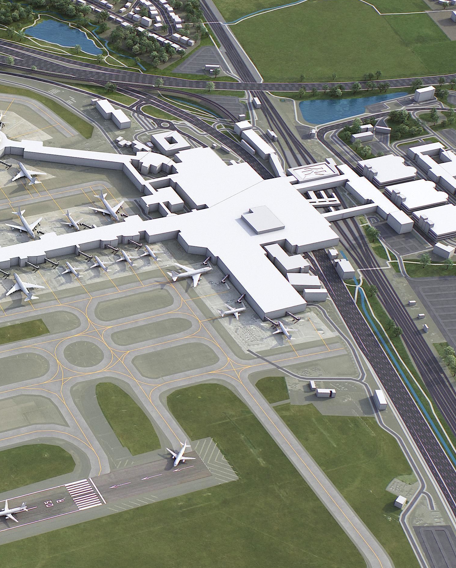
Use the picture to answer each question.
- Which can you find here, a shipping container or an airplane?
airplane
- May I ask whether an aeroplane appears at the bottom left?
Yes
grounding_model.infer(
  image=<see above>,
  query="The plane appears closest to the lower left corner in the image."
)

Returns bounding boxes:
[0,497,28,521]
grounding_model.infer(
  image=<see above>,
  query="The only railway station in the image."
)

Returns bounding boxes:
[287,162,338,183]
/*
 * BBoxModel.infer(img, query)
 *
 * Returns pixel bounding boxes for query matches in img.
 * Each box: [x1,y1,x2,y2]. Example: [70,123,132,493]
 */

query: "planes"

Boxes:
[90,256,114,272]
[169,261,212,285]
[63,211,84,230]
[117,250,140,266]
[11,162,50,184]
[5,208,43,238]
[218,303,246,319]
[0,497,28,521]
[5,272,48,302]
[273,321,299,339]
[89,192,125,221]
[168,443,197,466]
[63,262,88,278]
[141,245,164,261]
